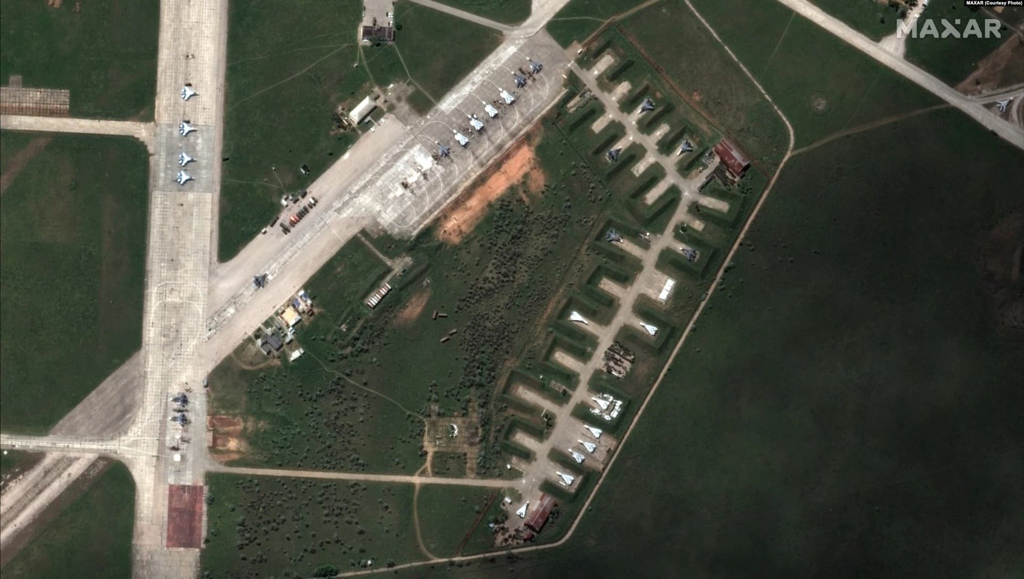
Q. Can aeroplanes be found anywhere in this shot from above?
Yes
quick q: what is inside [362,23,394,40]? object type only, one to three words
building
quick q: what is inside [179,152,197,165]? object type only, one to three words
airplane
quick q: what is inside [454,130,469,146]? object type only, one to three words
airplane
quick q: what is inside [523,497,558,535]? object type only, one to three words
shed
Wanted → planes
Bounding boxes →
[680,248,698,260]
[170,413,187,426]
[640,323,659,335]
[252,273,267,288]
[454,130,469,146]
[468,115,484,131]
[592,398,610,410]
[171,393,188,407]
[176,171,193,184]
[677,140,692,156]
[528,58,544,73]
[606,229,622,242]
[997,98,1011,108]
[516,502,528,520]
[579,441,596,454]
[179,152,197,165]
[569,311,587,323]
[181,87,197,100]
[482,101,498,118]
[606,146,622,161]
[639,98,655,112]
[513,73,529,87]
[585,426,603,439]
[499,89,515,104]
[569,450,585,464]
[438,143,453,157]
[179,123,196,136]
[556,472,575,485]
